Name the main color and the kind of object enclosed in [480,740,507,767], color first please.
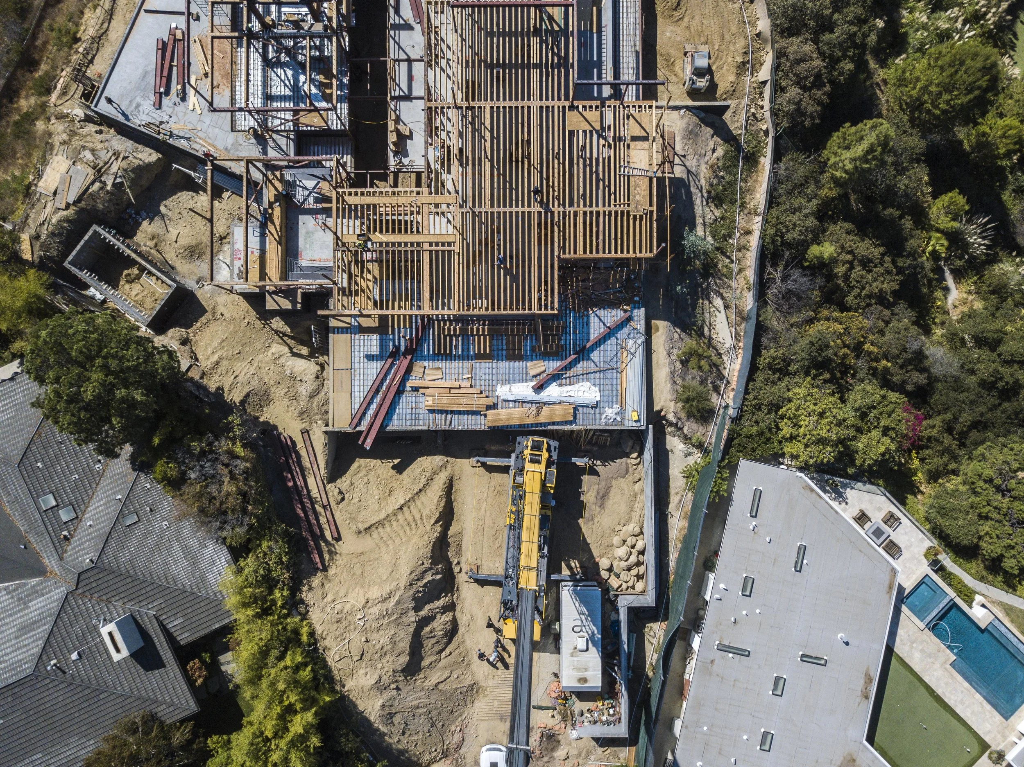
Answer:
white car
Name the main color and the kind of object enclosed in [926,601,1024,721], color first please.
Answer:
blue swimming pool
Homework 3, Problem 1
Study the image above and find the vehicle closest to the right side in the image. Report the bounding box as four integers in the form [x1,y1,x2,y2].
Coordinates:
[677,42,709,96]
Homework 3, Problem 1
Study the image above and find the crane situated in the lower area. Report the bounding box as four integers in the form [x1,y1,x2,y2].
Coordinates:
[465,435,591,767]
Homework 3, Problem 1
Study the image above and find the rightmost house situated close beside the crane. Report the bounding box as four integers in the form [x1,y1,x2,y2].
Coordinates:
[664,458,902,767]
